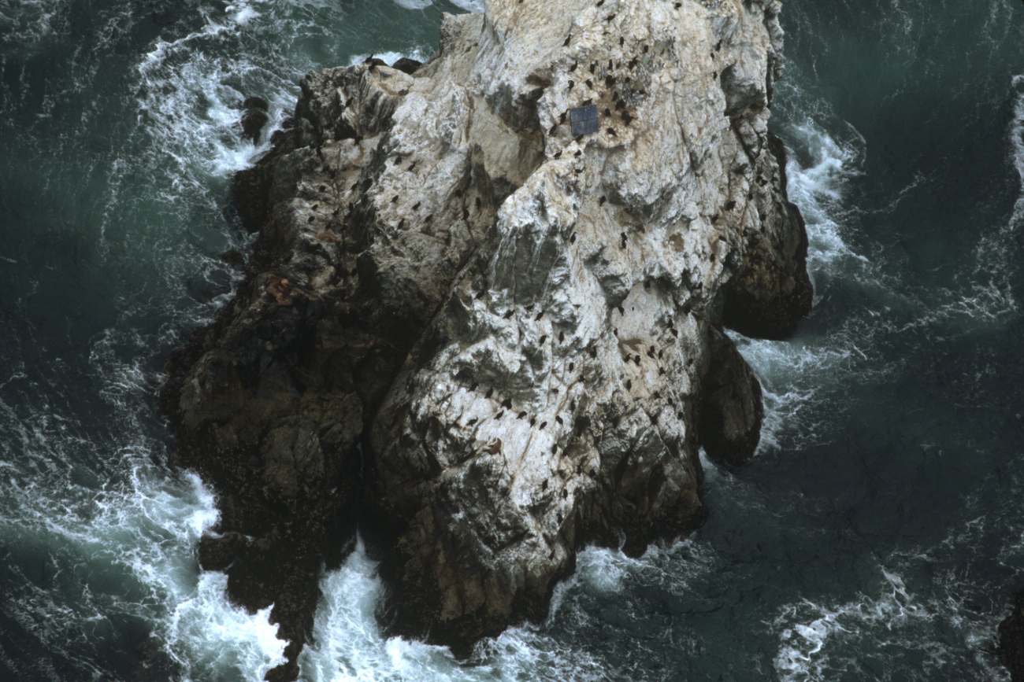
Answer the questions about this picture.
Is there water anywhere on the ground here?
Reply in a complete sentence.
Yes, the picture does contain water.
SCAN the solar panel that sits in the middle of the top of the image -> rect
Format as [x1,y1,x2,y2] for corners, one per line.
[570,103,601,142]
